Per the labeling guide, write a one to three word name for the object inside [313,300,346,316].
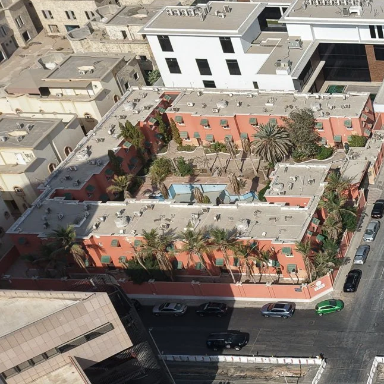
car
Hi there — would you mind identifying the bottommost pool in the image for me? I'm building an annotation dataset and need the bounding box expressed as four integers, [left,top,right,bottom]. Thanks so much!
[141,178,262,206]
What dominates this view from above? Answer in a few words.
buildings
